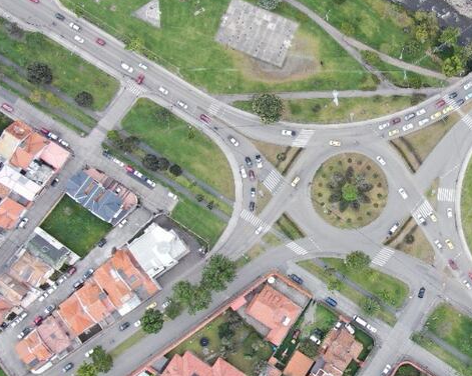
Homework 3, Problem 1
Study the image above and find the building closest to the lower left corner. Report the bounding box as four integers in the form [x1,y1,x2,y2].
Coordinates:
[14,330,56,373]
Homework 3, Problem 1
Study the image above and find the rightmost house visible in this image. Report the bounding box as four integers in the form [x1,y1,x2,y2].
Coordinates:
[311,327,363,376]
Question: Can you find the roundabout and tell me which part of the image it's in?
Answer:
right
